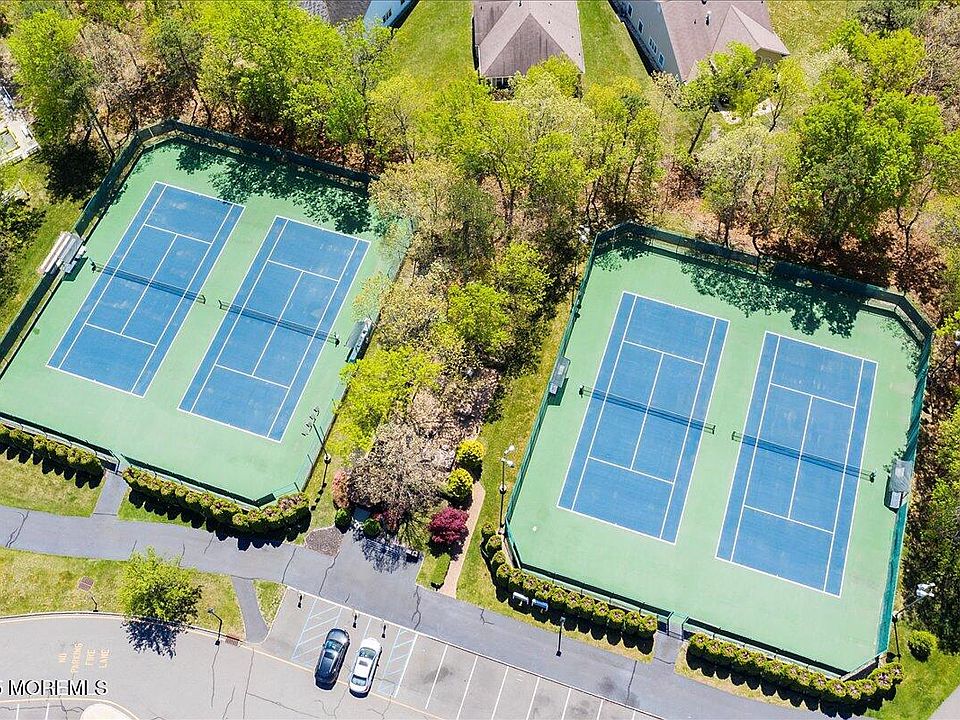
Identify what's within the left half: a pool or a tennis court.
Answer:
tennis court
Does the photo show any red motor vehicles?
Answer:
No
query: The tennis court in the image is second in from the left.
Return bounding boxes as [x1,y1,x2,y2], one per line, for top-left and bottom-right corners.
[178,216,370,442]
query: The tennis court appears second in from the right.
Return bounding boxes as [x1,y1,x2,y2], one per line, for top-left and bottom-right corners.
[558,291,730,544]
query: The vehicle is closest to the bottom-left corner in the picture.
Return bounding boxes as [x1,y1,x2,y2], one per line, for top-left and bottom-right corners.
[312,628,350,691]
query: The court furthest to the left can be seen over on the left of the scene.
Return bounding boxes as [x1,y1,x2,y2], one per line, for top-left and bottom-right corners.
[46,181,244,398]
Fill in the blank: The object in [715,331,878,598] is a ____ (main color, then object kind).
blue tennis court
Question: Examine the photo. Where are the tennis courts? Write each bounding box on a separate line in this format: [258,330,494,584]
[558,291,730,544]
[178,216,370,442]
[715,331,878,598]
[46,181,244,398]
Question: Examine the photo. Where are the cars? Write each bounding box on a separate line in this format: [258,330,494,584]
[348,638,382,698]
[312,628,350,691]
